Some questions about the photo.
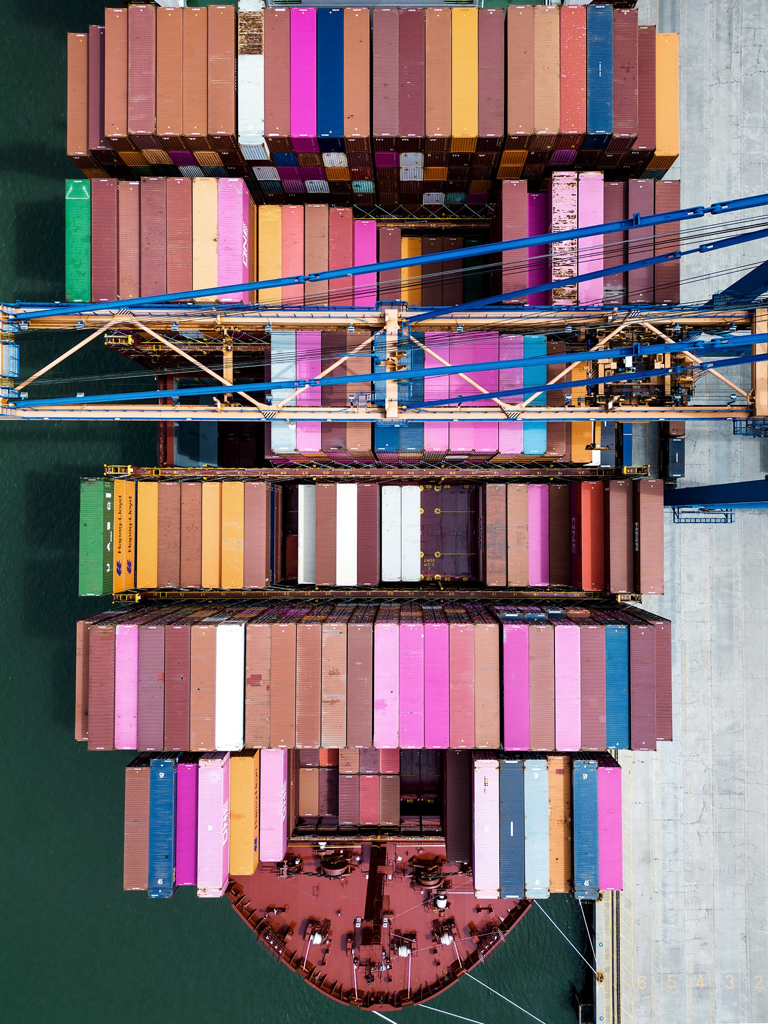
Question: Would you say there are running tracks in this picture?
No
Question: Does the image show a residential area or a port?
port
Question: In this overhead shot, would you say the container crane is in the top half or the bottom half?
top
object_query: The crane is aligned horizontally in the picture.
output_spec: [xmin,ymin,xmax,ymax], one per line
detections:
[0,193,768,523]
